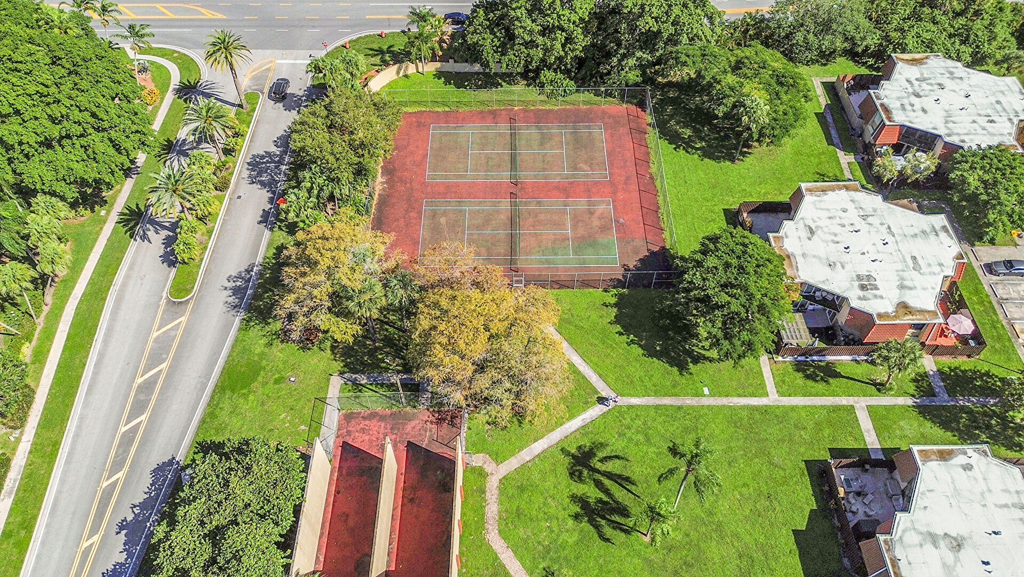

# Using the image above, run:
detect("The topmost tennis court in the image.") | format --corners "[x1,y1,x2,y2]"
[426,124,609,181]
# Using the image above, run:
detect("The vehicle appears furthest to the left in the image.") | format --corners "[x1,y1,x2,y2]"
[272,75,292,98]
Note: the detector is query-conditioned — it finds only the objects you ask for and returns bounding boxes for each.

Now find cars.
[444,14,472,27]
[987,258,1024,276]
[272,75,292,98]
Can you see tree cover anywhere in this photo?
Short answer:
Yes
